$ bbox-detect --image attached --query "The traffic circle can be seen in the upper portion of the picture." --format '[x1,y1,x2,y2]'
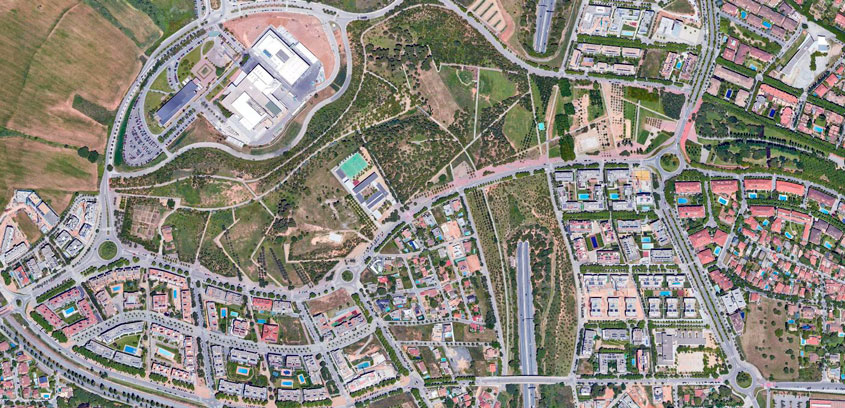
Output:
[654,146,685,178]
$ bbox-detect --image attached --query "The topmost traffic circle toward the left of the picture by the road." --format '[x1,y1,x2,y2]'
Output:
[92,235,122,264]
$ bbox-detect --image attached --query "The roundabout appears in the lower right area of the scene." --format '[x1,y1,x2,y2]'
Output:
[729,365,758,395]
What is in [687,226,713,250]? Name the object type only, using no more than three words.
house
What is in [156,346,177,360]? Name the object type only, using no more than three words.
swimming pool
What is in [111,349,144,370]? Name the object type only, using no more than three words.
building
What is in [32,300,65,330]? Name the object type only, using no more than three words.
building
